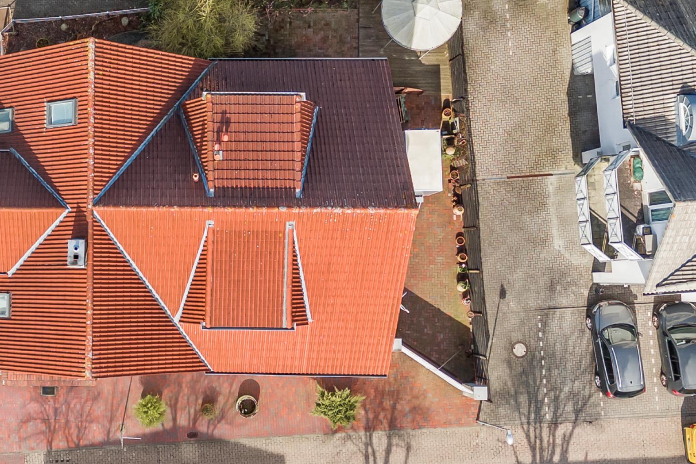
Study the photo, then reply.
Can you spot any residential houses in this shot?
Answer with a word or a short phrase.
Yes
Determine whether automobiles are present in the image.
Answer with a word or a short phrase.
Yes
